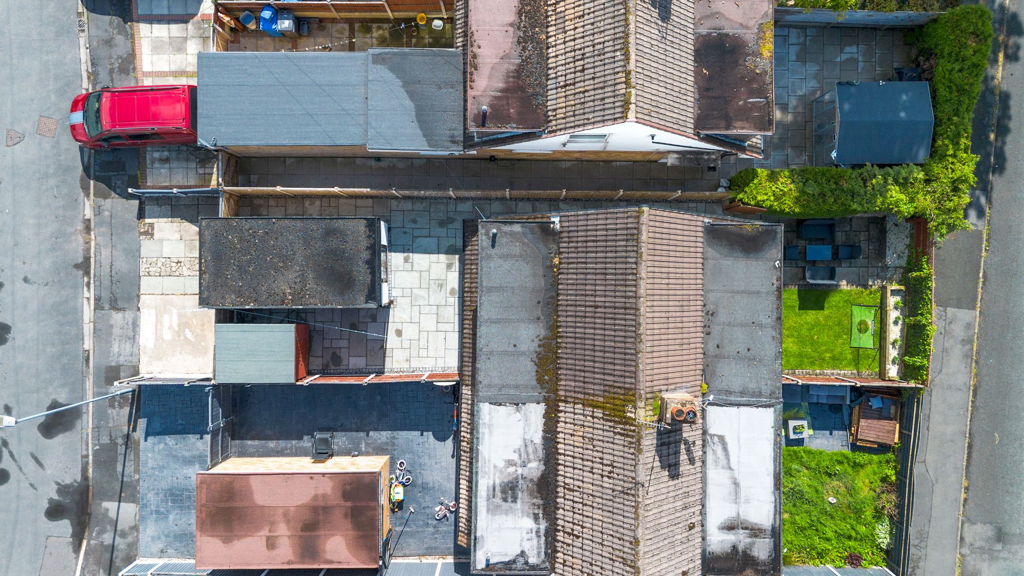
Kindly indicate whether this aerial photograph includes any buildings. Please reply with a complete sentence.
Yes, there's a building down there.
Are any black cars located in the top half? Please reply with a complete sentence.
No, I see no black car in the top half.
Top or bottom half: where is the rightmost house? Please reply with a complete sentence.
The rightmost house sits in the top half of the picture.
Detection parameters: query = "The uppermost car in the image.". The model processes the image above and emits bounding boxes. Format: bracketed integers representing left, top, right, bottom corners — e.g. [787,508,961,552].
[64,80,201,151]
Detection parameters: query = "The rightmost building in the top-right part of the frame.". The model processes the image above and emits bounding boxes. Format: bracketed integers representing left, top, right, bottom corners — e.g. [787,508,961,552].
[813,80,938,170]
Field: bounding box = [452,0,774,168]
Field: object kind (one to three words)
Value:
house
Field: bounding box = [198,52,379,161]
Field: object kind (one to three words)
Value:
building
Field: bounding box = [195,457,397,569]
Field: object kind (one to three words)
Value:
building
